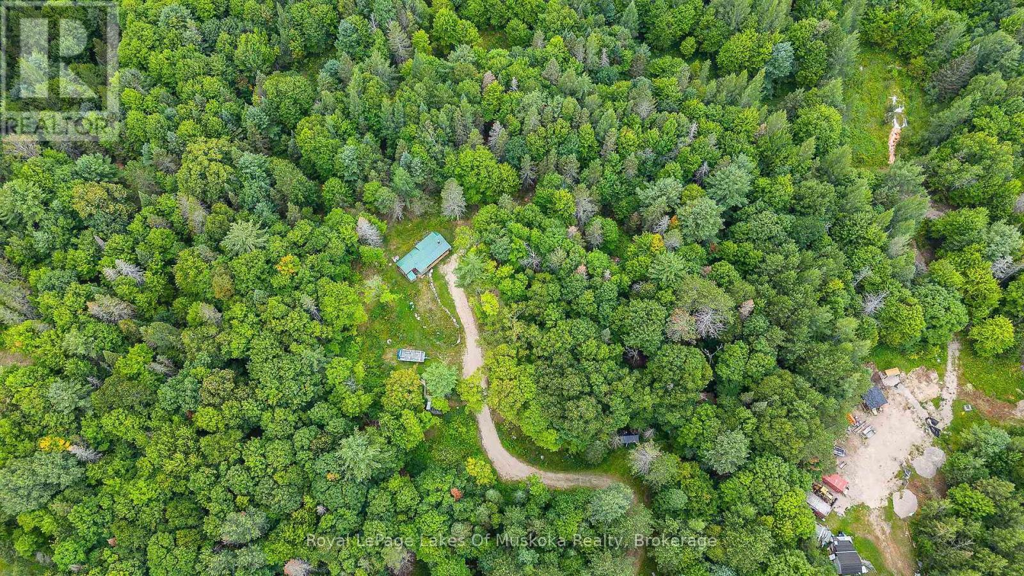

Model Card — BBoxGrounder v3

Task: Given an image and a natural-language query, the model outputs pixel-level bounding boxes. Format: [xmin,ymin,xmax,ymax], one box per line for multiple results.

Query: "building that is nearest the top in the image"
[396,231,454,283]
